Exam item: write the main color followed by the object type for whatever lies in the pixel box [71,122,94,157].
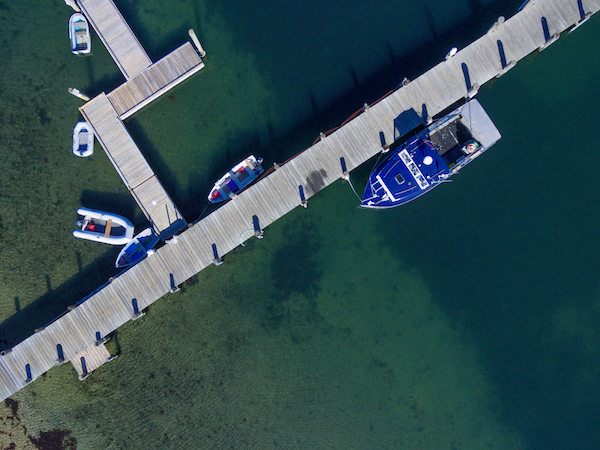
white boat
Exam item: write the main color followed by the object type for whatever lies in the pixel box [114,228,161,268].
blue boat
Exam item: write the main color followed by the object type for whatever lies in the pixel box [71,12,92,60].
white boat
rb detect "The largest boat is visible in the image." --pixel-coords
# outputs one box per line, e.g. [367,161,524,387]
[360,97,503,210]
